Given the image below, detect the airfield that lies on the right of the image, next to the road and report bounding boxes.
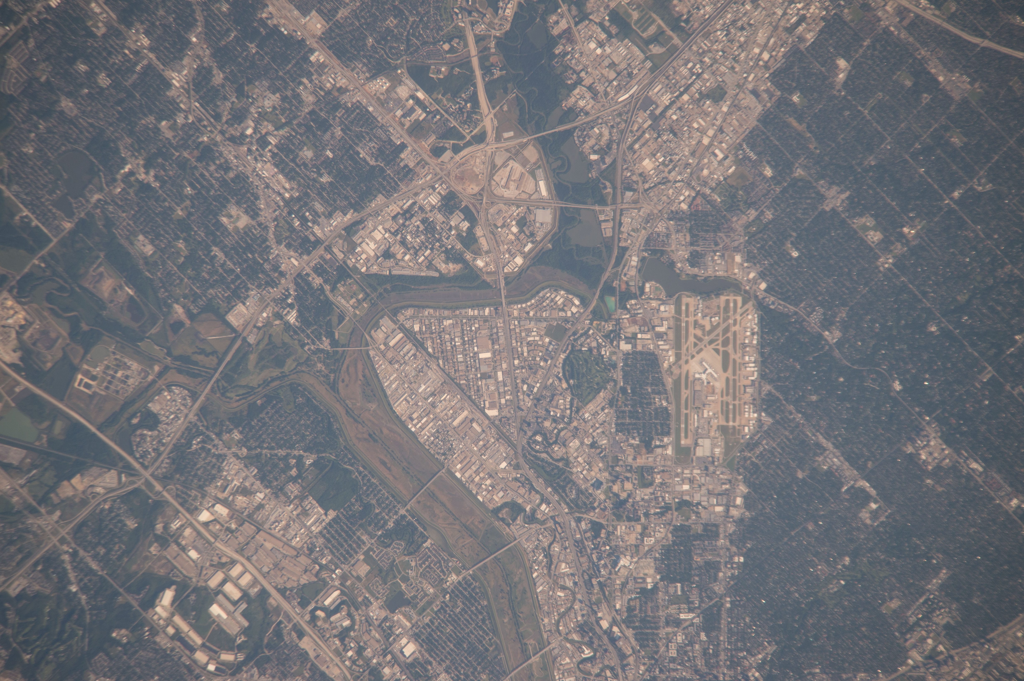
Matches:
[671,292,759,466]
